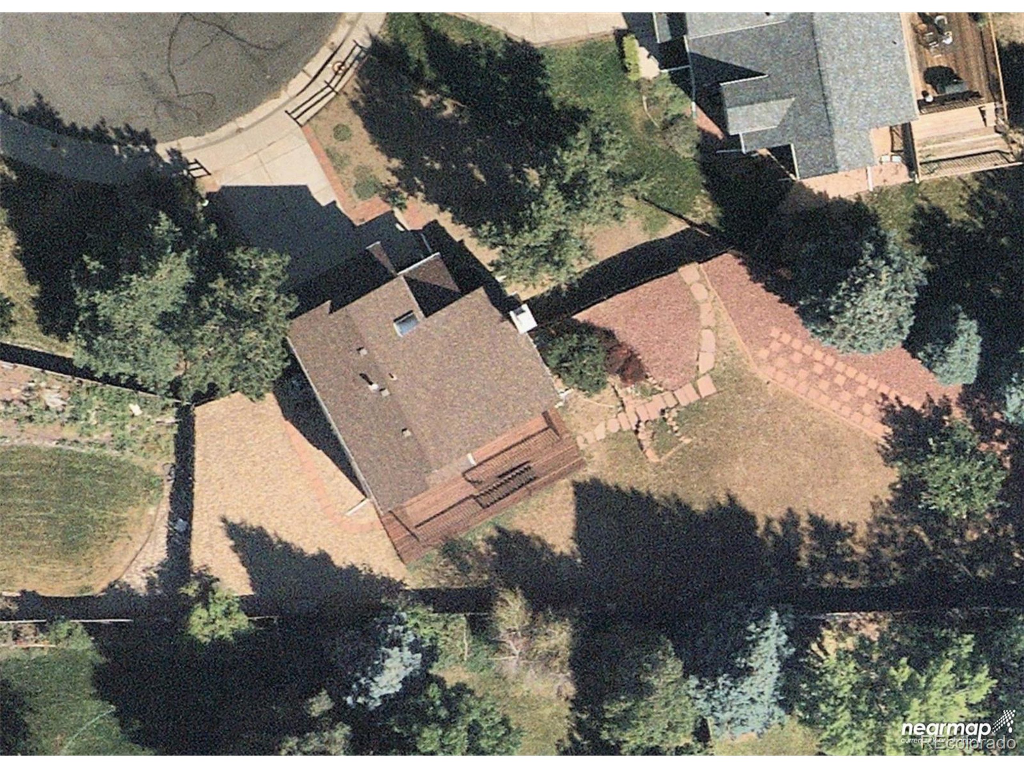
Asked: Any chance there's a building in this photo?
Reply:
Yes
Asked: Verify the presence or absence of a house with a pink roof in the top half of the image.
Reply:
No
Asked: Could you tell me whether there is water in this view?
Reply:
No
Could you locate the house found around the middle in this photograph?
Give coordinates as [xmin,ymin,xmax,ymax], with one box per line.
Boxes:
[271,240,572,515]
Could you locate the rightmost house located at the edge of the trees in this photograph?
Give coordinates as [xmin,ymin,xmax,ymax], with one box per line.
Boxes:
[676,0,920,192]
